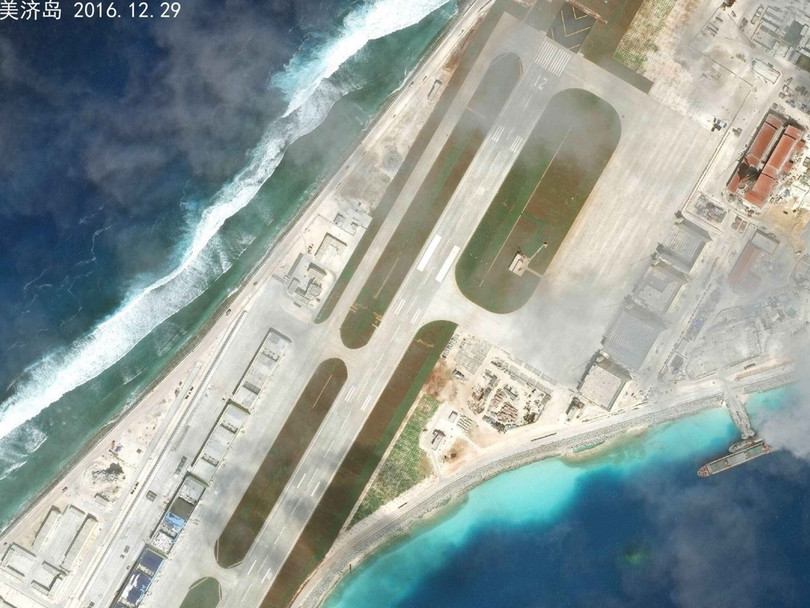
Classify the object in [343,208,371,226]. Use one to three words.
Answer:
building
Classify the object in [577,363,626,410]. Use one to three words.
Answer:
hangar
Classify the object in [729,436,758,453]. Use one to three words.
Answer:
ship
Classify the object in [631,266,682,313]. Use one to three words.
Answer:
hangar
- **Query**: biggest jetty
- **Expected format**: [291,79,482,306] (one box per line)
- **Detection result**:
[729,386,753,437]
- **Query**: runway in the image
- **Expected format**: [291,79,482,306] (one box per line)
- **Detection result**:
[215,33,574,608]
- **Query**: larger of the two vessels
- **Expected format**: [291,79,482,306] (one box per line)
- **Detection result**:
[697,440,774,474]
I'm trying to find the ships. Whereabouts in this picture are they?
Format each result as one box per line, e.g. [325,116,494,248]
[697,440,774,474]
[729,436,758,453]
